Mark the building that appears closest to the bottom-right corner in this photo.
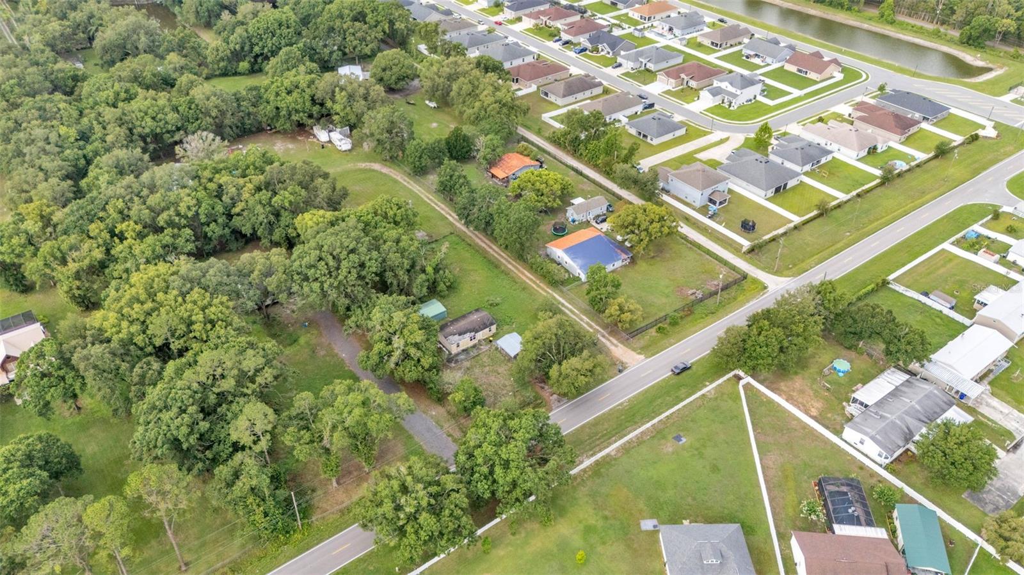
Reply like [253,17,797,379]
[893,504,957,575]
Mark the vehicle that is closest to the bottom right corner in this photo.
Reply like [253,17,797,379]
[670,358,692,373]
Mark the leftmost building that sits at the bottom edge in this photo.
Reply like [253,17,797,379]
[659,523,756,575]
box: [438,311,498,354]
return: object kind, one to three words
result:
house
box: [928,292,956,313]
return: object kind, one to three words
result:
shed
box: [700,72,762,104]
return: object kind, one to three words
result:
house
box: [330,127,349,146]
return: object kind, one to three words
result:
camper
